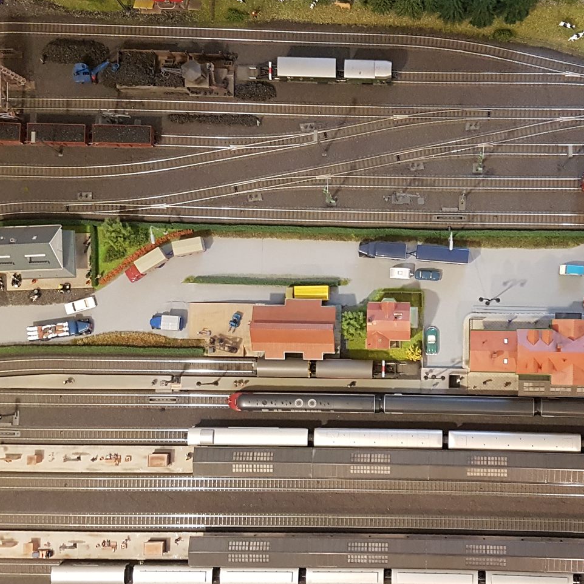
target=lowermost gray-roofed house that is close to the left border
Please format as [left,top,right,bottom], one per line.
[0,223,82,279]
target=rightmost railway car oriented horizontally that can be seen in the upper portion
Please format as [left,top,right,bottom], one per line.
[343,55,396,83]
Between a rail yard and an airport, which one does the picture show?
rail yard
